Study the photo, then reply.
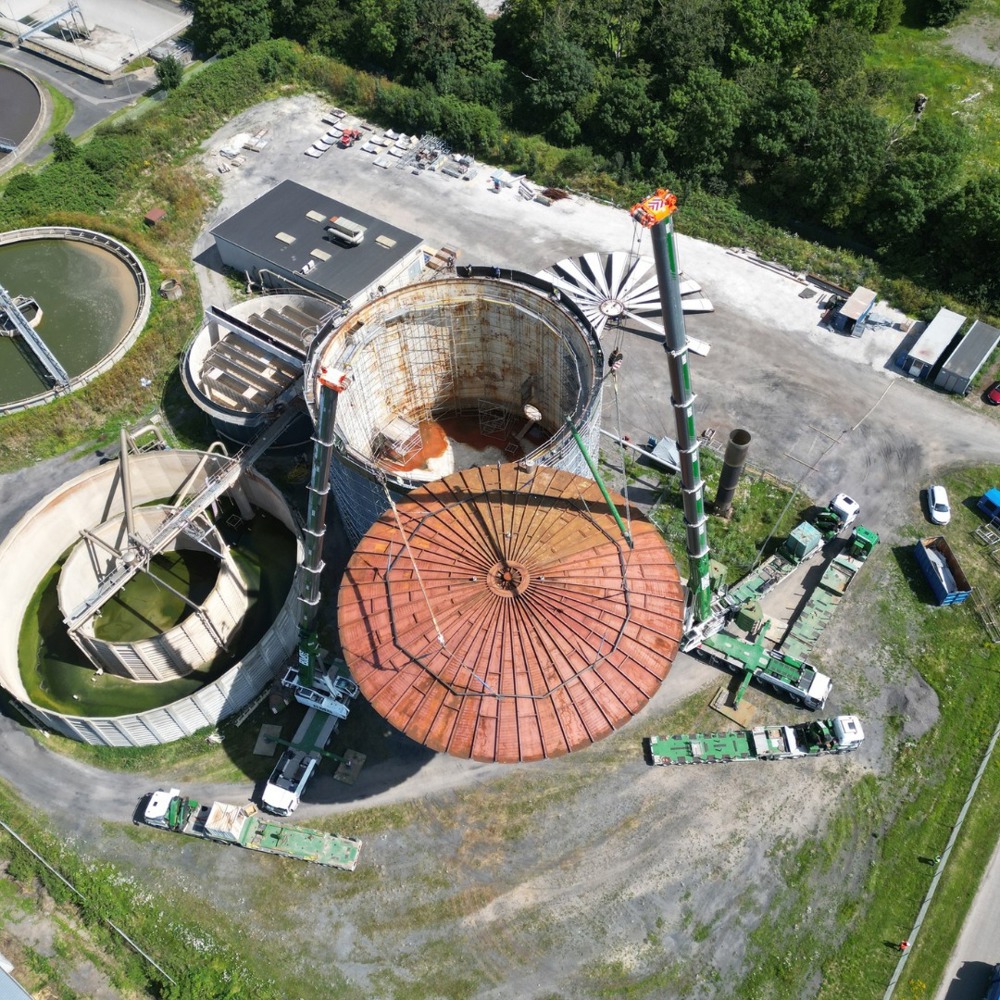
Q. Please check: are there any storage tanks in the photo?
Yes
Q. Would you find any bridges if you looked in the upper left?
Yes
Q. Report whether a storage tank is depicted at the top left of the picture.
Yes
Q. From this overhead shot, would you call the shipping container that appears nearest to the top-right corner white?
Yes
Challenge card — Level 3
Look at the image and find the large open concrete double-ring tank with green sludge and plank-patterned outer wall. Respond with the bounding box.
[0,425,311,748]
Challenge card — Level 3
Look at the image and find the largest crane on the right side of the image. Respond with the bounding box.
[612,188,822,715]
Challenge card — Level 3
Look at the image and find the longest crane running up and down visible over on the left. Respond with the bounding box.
[262,360,381,816]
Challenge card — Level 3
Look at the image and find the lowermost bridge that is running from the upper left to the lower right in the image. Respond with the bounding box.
[0,298,76,396]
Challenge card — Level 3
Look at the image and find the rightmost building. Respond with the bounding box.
[938,319,1000,394]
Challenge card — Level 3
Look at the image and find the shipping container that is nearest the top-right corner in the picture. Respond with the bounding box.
[831,289,875,342]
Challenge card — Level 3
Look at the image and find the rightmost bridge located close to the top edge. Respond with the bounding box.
[19,0,99,44]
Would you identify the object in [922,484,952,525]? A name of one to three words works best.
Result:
car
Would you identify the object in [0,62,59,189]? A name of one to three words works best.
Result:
storage tank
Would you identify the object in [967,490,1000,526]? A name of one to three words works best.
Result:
van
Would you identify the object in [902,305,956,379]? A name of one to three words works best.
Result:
building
